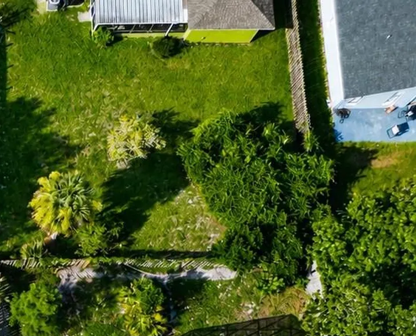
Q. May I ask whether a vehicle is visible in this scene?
No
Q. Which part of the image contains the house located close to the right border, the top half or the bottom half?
top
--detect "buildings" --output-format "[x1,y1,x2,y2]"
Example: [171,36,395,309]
[320,0,416,117]
[85,0,276,47]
